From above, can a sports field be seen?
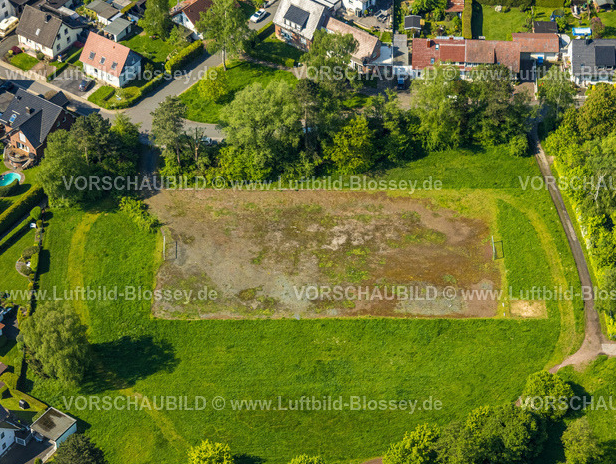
Yes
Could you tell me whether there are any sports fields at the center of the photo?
Yes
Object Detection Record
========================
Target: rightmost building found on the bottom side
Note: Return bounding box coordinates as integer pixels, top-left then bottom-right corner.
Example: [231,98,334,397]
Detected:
[30,406,77,449]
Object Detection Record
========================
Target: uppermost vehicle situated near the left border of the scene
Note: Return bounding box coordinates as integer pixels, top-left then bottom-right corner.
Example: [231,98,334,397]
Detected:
[0,12,19,35]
